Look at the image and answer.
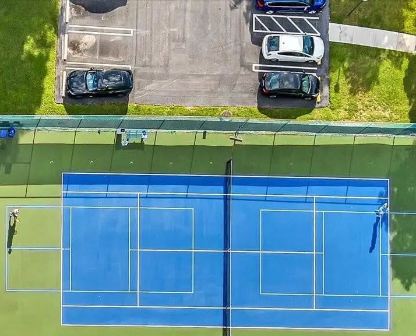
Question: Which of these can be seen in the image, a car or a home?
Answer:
car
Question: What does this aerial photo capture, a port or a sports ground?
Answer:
sports ground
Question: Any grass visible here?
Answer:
Yes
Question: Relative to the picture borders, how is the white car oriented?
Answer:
from side to side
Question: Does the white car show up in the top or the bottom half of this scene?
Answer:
top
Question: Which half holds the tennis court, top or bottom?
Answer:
bottom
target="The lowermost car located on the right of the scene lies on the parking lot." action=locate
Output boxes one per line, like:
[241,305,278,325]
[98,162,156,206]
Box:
[265,69,323,100]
